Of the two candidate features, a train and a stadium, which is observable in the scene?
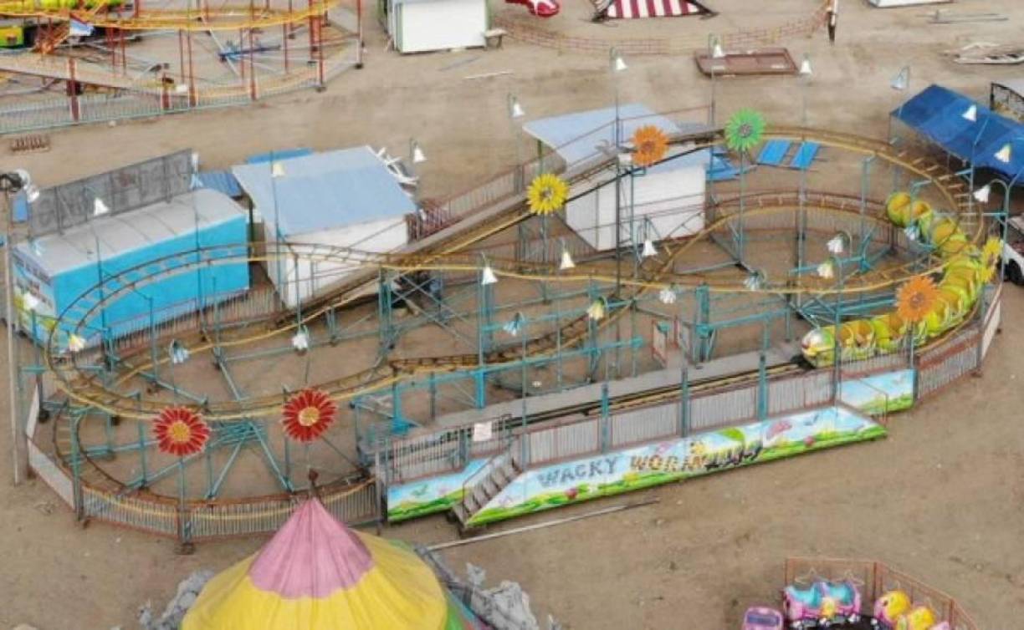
train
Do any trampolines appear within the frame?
No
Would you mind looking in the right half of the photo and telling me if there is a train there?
Yes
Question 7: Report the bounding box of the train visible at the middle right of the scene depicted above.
[796,191,994,373]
